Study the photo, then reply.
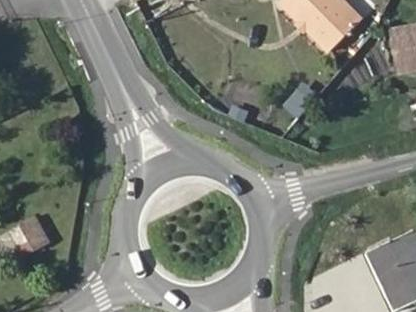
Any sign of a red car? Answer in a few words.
No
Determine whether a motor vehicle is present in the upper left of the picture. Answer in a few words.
No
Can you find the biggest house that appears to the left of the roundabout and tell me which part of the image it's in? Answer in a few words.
bottom left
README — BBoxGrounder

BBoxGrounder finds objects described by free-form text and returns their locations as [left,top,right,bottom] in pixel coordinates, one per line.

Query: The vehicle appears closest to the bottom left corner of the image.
[128,252,146,278]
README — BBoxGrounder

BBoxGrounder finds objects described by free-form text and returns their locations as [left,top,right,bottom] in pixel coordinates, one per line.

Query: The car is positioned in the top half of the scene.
[251,25,264,48]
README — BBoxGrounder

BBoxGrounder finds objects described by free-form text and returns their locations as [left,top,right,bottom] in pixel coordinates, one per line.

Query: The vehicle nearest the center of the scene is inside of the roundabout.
[226,176,244,196]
